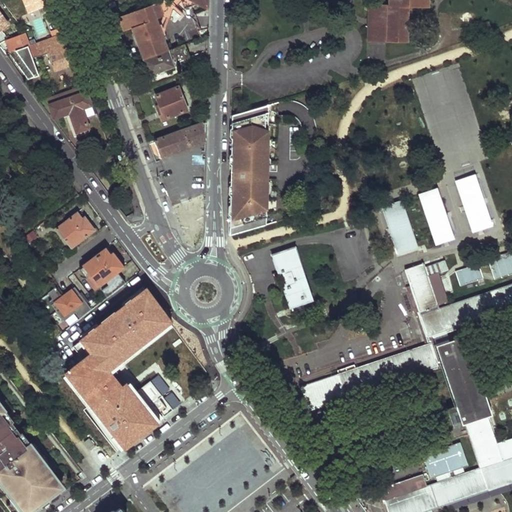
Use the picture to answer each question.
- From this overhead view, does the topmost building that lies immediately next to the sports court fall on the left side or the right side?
right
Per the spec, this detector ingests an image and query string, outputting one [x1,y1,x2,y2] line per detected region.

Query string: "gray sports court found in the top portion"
[414,64,486,166]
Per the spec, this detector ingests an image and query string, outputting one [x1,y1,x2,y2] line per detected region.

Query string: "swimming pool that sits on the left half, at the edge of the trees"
[31,16,48,38]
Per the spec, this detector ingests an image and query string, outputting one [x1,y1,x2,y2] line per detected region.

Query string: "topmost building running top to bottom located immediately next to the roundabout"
[232,108,270,234]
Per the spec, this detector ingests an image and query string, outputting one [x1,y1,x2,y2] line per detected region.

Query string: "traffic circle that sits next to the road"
[170,256,242,328]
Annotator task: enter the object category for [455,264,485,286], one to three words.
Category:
shed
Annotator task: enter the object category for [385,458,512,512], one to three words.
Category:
building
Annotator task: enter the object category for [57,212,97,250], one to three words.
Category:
house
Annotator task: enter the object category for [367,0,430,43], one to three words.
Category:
building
